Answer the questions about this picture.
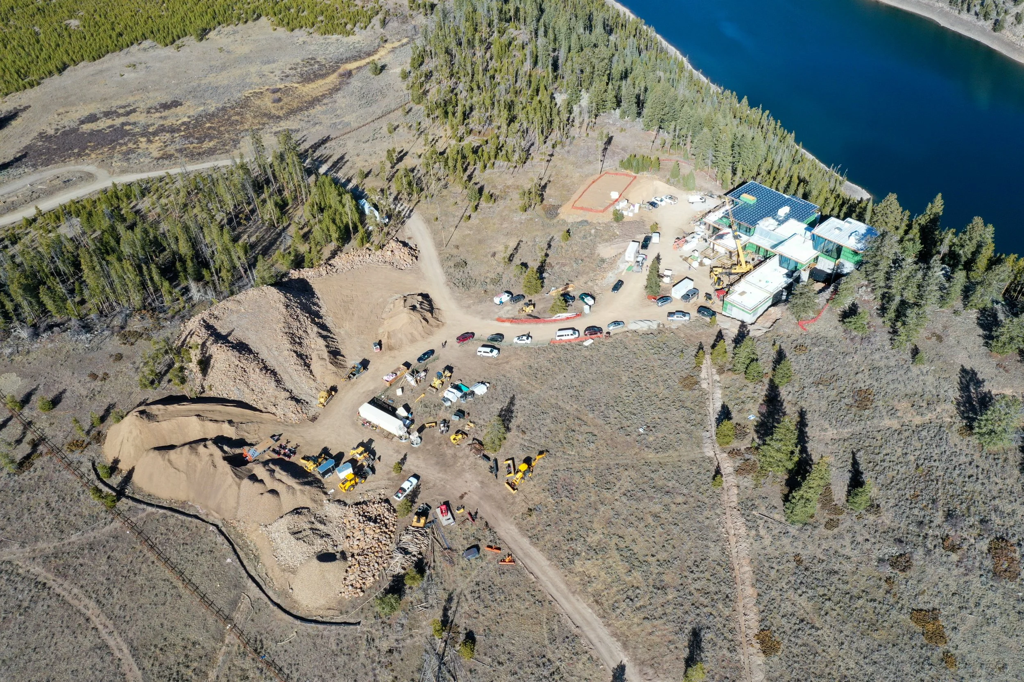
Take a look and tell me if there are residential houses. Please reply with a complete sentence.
Yes, this view includes a residential house.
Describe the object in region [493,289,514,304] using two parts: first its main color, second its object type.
white vehicle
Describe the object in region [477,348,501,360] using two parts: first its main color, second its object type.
white vehicle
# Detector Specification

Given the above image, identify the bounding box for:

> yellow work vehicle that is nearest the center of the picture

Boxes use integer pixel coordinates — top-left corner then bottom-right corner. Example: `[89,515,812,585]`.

[517,301,536,313]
